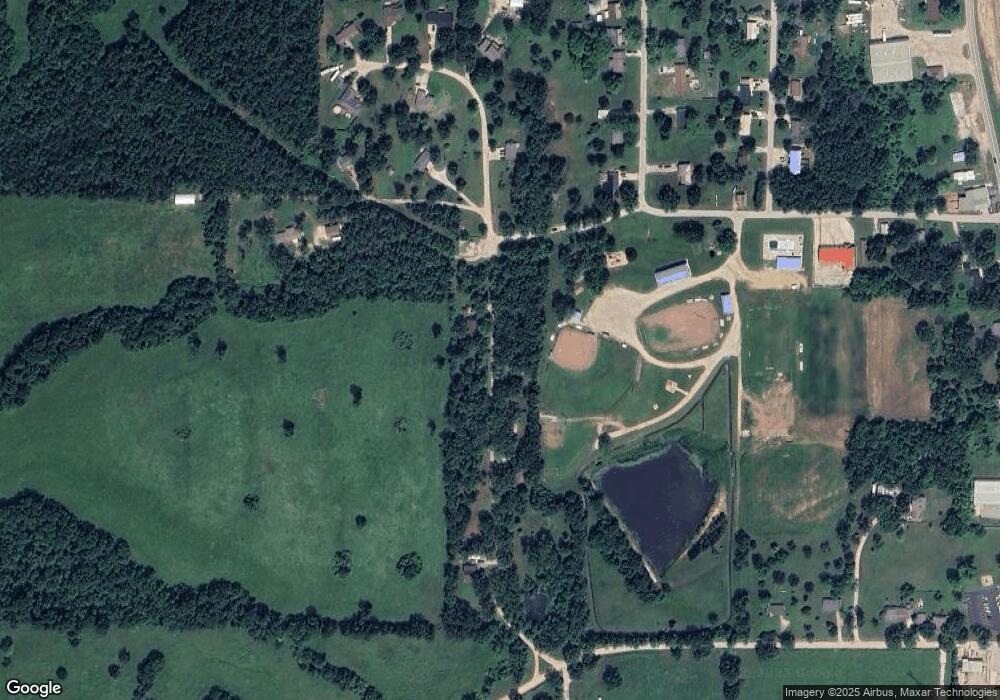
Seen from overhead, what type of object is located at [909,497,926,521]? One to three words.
house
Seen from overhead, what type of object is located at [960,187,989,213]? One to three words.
building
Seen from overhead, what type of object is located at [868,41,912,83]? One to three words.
building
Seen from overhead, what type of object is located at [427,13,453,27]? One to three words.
house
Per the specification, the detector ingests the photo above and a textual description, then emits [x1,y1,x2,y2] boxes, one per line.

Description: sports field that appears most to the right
[787,288,868,445]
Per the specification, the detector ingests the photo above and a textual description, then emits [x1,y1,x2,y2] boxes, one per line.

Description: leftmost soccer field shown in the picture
[744,299,799,374]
